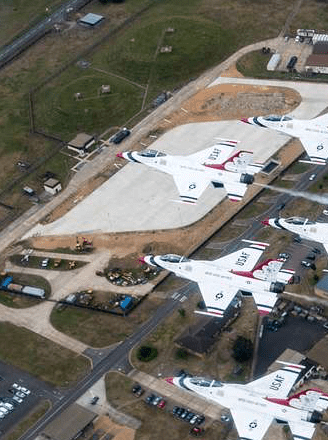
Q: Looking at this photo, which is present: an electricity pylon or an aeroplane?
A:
aeroplane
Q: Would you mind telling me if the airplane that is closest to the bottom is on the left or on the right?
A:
right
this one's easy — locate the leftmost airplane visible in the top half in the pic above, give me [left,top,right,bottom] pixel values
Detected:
[106,138,262,204]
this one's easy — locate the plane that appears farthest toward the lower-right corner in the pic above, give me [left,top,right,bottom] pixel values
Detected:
[155,361,328,440]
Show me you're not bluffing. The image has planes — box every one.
[155,361,328,440]
[106,138,262,204]
[131,241,295,317]
[252,220,328,256]
[235,112,328,164]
